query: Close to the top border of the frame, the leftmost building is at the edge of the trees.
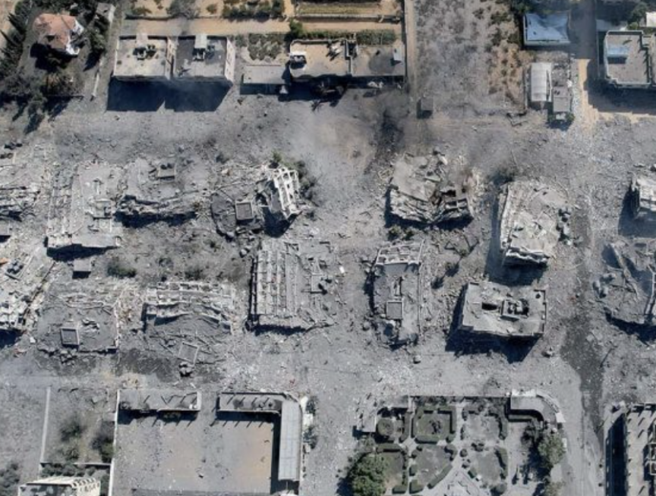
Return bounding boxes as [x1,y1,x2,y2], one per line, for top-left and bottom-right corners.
[34,13,89,59]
